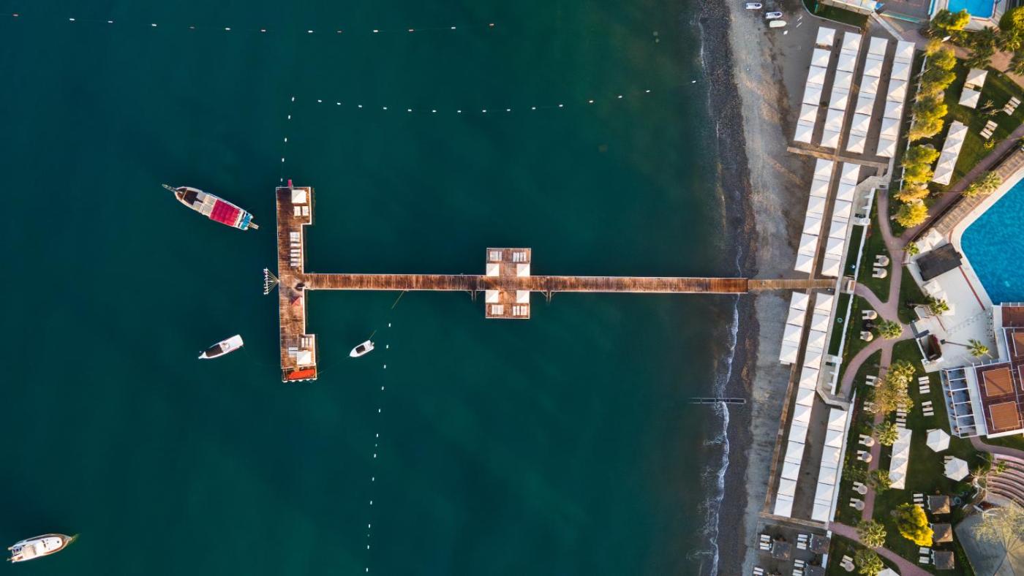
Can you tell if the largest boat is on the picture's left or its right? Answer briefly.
left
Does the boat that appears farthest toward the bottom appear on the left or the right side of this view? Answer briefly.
left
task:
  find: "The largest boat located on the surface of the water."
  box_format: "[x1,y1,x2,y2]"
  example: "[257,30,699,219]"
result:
[163,185,259,231]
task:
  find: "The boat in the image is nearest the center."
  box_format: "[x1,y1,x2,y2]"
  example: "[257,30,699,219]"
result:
[349,341,375,357]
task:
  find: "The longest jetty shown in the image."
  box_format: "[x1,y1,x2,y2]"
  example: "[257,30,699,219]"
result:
[276,187,748,383]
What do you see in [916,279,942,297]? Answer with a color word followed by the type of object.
white umbrella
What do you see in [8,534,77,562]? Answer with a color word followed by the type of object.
white boat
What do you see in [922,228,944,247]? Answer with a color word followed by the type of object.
white umbrella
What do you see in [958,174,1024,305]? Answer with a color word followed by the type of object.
blue swimming pool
